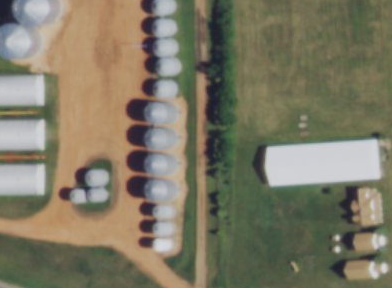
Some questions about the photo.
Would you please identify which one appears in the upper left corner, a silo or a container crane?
silo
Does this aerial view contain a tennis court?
No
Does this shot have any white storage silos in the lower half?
Yes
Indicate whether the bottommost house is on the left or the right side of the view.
right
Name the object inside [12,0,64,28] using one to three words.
silo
